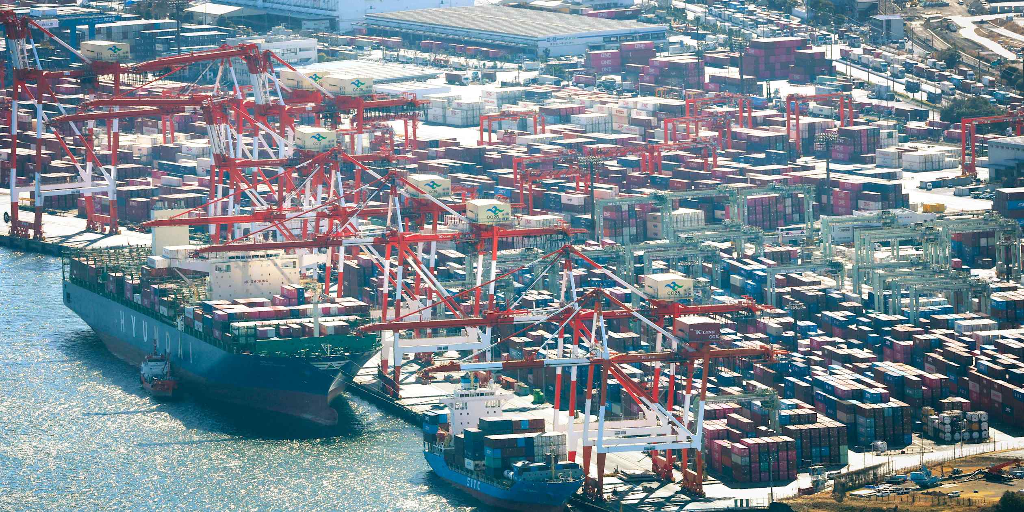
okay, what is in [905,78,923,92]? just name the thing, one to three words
vehicle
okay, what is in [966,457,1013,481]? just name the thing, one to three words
crane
